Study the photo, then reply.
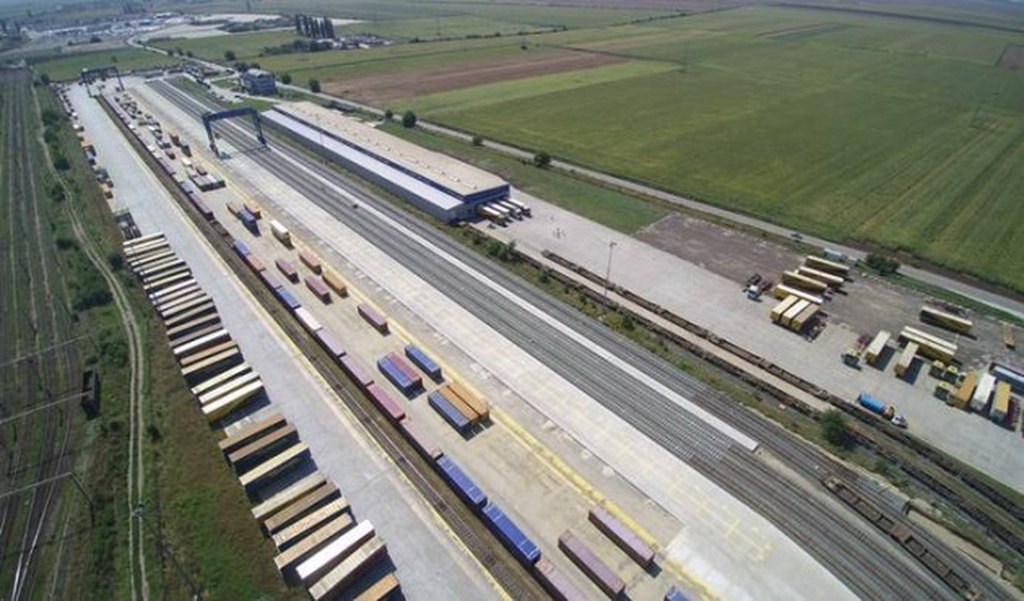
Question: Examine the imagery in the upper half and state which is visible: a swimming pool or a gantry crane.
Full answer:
There is a gantry crane in the upper half.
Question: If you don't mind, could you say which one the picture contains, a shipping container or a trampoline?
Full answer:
Visible in the photo is a shipping container.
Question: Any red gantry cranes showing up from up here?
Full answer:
No, there's no red gantry crane here.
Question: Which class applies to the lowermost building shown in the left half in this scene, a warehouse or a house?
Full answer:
What you see as the lowermost building shown in the left half is a warehouse.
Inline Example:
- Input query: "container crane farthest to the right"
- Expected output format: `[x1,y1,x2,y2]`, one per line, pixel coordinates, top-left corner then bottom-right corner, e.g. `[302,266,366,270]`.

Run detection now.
[198,106,269,157]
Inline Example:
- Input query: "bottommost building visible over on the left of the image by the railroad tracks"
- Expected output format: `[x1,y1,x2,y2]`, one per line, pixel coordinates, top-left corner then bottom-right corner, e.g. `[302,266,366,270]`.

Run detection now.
[263,99,507,220]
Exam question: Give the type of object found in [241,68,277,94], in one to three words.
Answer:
building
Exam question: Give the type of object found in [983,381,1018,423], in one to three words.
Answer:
trailer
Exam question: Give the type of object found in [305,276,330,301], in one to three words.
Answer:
shipping container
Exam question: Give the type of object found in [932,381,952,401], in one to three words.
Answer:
vehicle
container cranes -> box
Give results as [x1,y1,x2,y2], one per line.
[198,106,269,157]
[80,66,128,96]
